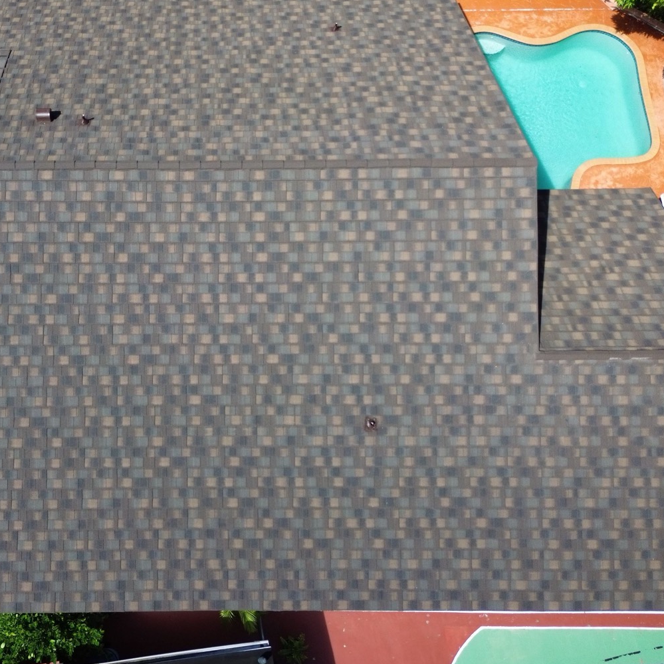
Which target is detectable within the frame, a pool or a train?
pool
